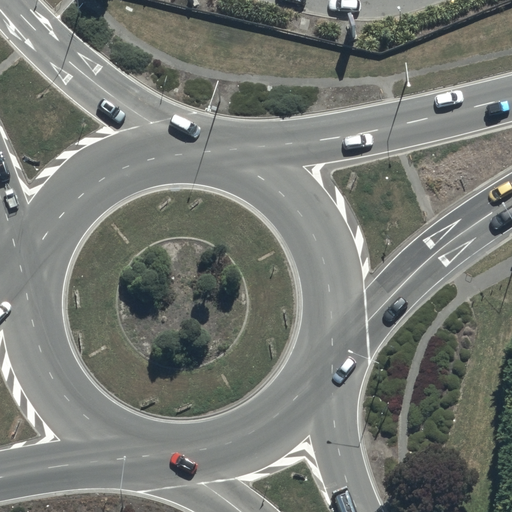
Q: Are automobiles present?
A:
Yes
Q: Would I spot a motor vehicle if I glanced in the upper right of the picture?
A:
Yes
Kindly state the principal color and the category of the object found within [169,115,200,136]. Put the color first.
white vehicle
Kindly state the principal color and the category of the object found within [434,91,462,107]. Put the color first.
white car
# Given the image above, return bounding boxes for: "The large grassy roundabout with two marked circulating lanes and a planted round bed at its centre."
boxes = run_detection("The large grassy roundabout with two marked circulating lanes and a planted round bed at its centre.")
[0,118,366,488]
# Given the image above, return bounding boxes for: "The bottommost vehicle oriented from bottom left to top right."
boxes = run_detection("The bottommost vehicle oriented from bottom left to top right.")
[332,356,357,385]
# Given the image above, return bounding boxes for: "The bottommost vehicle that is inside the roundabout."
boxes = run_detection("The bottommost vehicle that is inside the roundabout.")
[170,454,196,474]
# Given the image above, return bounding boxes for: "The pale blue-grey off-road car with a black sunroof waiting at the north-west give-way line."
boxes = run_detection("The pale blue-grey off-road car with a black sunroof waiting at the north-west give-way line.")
[96,98,124,122]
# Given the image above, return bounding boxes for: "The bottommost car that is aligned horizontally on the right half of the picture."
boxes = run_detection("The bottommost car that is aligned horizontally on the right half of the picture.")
[342,135,372,150]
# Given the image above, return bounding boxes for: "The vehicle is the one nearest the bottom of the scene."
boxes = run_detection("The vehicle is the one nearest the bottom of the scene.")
[333,487,354,512]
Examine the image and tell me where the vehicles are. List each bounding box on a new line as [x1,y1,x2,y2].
[0,300,10,320]
[332,356,357,385]
[330,0,360,11]
[169,115,200,136]
[486,100,510,116]
[494,210,512,230]
[333,487,354,512]
[490,180,512,202]
[434,91,462,107]
[382,297,410,324]
[170,454,196,474]
[342,135,372,150]
[0,154,8,186]
[96,98,124,122]
[276,0,306,8]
